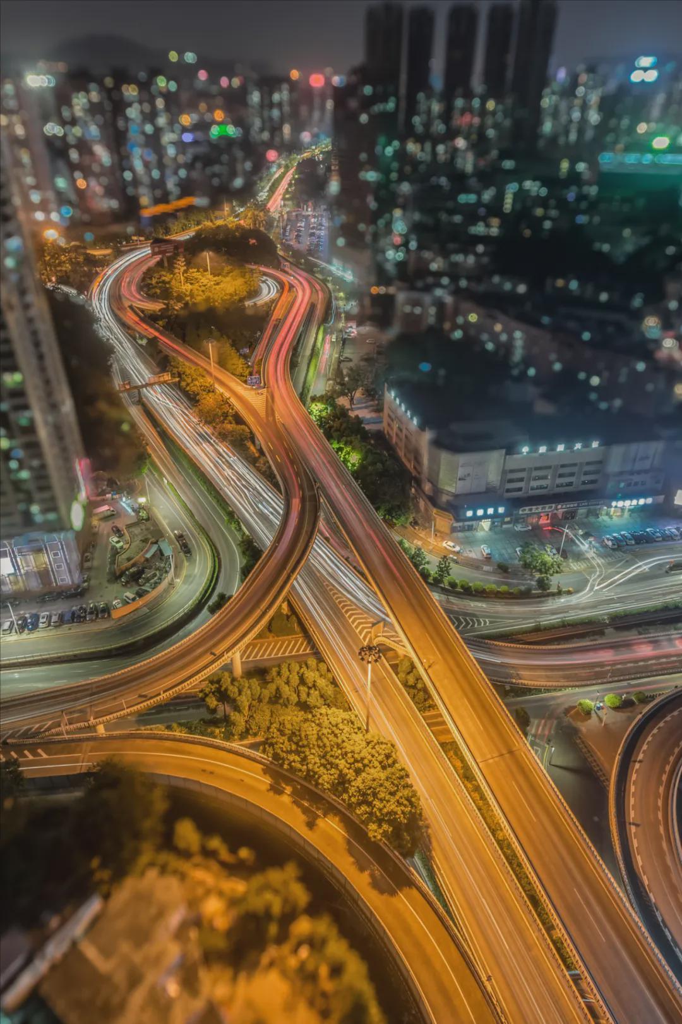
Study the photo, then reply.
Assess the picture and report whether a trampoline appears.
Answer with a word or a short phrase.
No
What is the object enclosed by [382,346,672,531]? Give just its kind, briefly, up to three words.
building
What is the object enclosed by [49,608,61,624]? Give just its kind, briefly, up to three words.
vehicle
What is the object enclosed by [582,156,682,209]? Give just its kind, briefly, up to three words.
building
